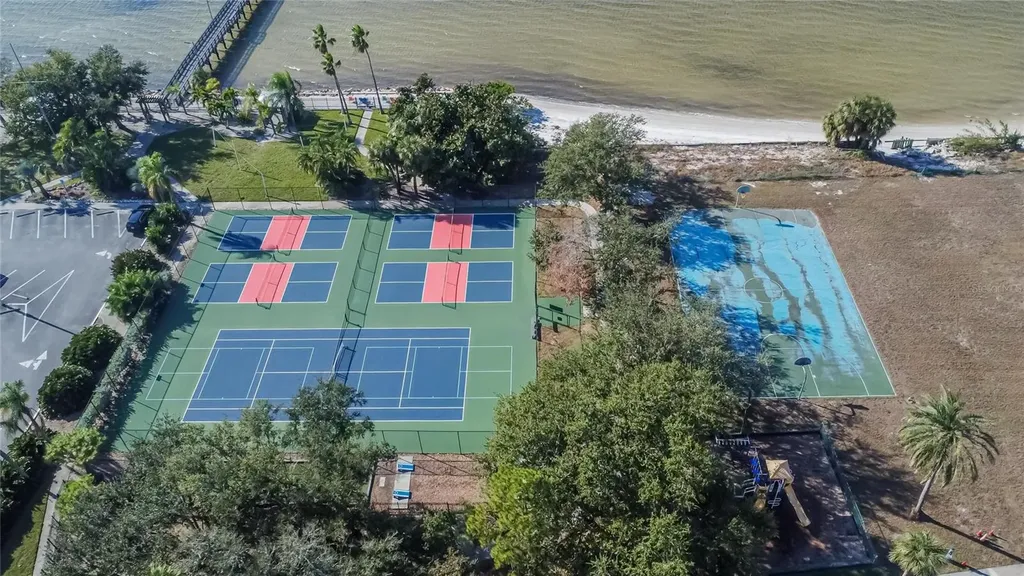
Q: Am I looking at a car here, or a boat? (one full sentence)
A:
Visible in the photo is a car.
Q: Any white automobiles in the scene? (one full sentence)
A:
No, no white automobile is visible in the scene.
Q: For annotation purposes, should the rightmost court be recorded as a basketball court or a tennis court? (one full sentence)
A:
Looking closely, the rightmost court is a basketball court.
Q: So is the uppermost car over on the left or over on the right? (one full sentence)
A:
You can find the uppermost car on the left side of the picture.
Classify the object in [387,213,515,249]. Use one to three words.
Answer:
sports court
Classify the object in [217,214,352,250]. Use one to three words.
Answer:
sports court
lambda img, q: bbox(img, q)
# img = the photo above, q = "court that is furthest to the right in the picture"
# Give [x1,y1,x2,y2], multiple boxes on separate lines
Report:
[665,209,895,396]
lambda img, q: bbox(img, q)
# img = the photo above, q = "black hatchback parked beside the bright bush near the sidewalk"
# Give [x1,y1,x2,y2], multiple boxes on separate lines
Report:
[124,207,152,236]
